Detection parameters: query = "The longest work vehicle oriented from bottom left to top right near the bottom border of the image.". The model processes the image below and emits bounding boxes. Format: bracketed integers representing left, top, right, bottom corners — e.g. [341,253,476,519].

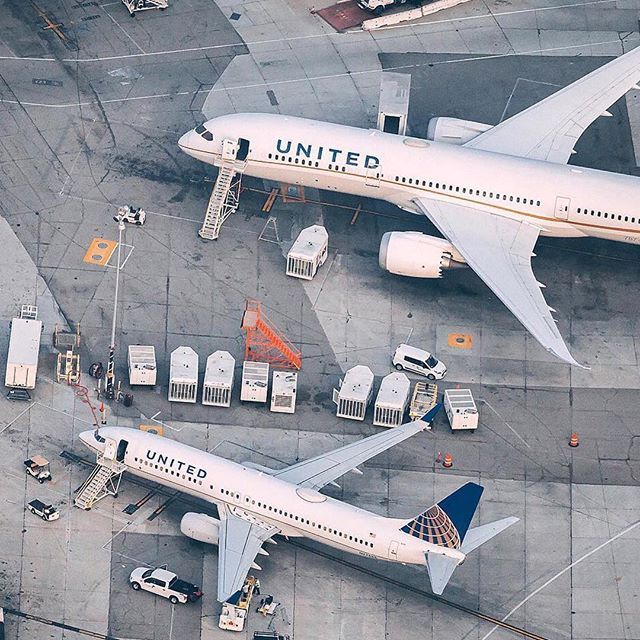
[219,569,262,628]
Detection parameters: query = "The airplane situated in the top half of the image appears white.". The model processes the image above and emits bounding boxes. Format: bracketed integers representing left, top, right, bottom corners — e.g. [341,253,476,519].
[179,56,640,369]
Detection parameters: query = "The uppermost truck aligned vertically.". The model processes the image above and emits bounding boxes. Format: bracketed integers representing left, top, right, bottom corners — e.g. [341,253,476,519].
[381,74,411,134]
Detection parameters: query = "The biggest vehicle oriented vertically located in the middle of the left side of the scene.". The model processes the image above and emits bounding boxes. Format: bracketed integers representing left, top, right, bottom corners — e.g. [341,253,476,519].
[6,301,44,402]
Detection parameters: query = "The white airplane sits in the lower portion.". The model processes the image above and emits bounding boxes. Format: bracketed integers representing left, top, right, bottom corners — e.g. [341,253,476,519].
[81,404,524,607]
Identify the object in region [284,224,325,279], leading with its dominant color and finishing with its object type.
white trailer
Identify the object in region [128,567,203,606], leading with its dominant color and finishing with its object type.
white truck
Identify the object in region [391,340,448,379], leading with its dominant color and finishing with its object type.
white van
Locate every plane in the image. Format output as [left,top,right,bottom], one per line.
[81,404,524,607]
[179,56,640,369]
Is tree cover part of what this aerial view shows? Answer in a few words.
No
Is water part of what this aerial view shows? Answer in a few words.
No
